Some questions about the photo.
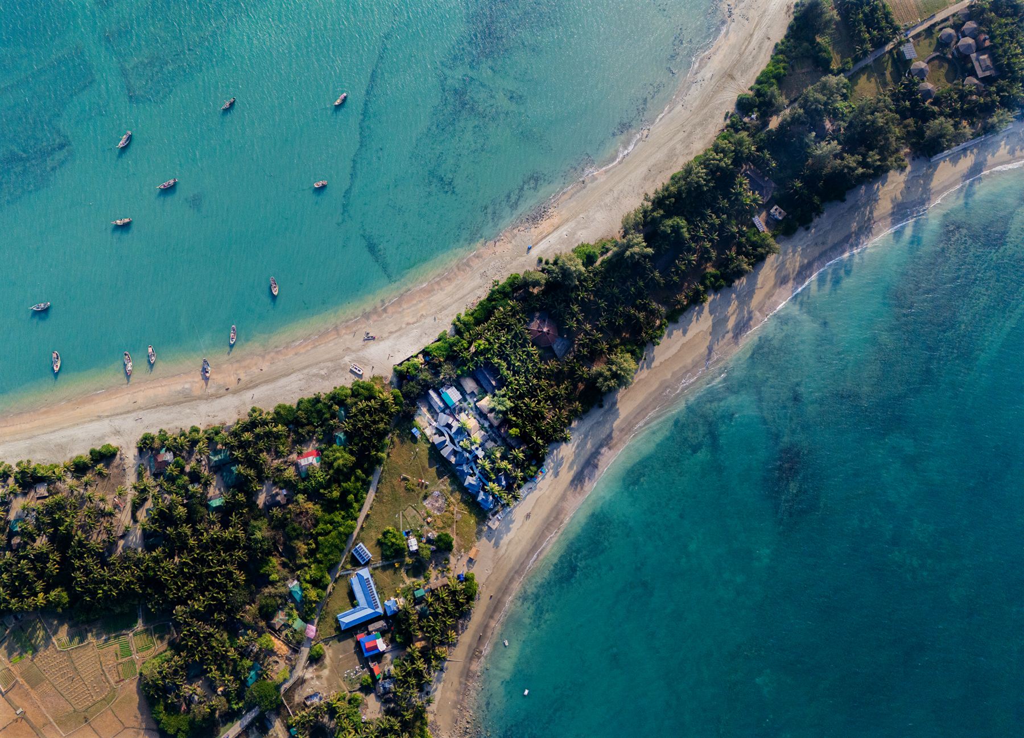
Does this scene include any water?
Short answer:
Yes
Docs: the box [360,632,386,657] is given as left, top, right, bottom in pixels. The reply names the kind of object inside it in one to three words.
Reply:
house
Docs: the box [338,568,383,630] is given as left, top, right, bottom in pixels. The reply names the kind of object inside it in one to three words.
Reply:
building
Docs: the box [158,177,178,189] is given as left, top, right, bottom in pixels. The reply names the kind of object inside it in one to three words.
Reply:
boat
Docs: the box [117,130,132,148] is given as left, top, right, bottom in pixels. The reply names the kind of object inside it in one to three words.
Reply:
boat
